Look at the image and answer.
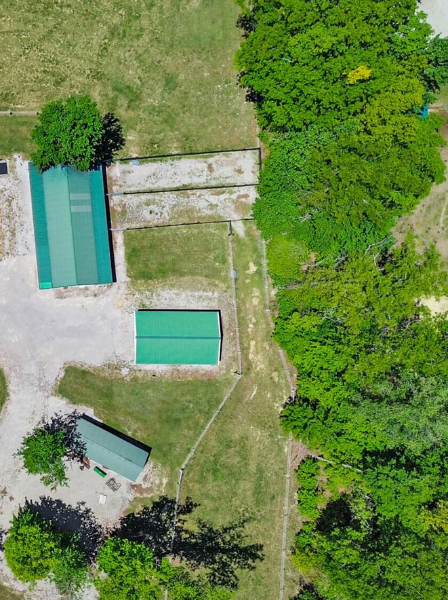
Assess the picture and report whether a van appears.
No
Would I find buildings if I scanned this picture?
Yes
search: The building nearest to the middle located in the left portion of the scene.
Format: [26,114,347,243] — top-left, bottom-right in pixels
[133,308,222,368]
